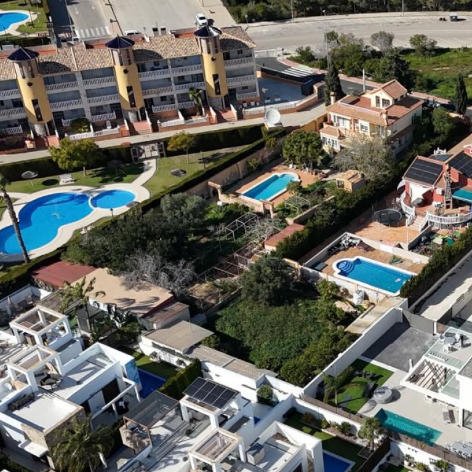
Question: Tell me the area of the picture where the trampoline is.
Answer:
right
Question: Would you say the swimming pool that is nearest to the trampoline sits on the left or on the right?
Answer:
right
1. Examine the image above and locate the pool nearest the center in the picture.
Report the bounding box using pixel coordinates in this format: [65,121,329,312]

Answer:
[241,171,302,201]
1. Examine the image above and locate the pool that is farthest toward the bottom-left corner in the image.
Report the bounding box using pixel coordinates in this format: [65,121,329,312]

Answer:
[137,365,160,400]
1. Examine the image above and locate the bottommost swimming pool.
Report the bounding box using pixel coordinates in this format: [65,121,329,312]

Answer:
[322,449,347,472]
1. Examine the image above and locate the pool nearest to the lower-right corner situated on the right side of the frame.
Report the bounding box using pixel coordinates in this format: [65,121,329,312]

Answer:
[373,405,445,448]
